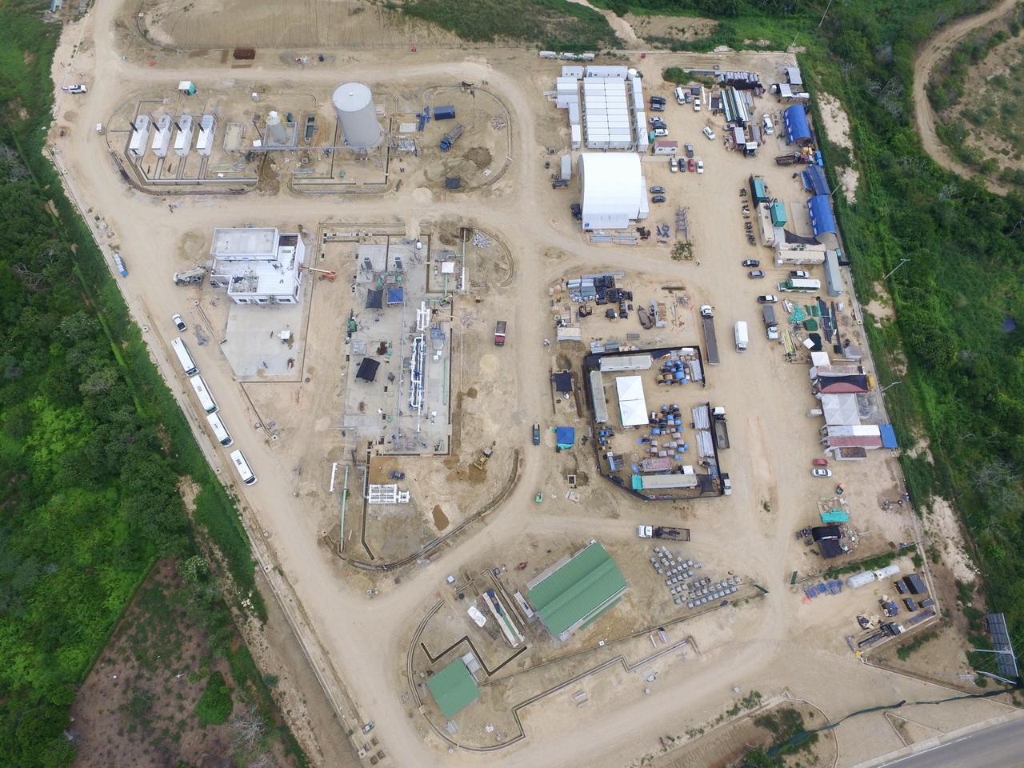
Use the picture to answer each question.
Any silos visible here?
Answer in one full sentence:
Yes, the photo shows a silo.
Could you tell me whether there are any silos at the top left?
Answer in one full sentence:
Yes, a silo can be seen at the top left.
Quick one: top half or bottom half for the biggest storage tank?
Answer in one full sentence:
Seen from above, the biggest storage tank lies in the top half of the view.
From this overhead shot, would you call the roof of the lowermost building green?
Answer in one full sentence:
Yes, green is the color of the roof of the lowermost building.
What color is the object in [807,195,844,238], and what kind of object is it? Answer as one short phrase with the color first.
blue tent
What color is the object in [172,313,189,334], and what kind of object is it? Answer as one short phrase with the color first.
white vehicle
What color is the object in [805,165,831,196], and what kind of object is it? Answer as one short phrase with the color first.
blue tent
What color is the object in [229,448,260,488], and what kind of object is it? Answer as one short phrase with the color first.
white bus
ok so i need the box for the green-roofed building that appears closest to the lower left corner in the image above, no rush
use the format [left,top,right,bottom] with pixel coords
[427,658,482,718]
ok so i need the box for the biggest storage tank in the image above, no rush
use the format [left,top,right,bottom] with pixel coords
[331,82,385,150]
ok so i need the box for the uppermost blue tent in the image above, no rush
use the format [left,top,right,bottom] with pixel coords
[784,104,815,145]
